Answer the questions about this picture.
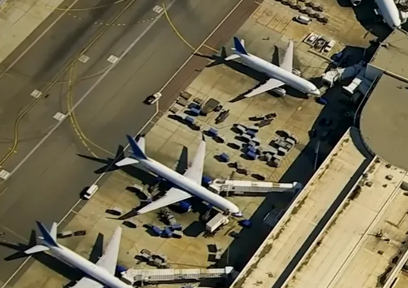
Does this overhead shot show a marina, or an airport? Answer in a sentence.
The picture captures an airport.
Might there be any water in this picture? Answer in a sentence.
No, there's no water in this view.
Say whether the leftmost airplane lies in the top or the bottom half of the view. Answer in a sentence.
You can find the leftmost airplane in the bottom half.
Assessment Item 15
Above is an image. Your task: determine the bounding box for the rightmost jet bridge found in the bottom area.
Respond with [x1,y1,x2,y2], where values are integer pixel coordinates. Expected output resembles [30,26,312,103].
[207,178,302,201]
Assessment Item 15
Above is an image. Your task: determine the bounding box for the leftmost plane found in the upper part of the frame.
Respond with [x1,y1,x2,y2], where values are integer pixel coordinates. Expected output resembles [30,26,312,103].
[230,39,321,98]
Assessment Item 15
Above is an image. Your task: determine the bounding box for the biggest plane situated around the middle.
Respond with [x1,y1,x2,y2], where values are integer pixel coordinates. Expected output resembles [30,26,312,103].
[116,130,243,216]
